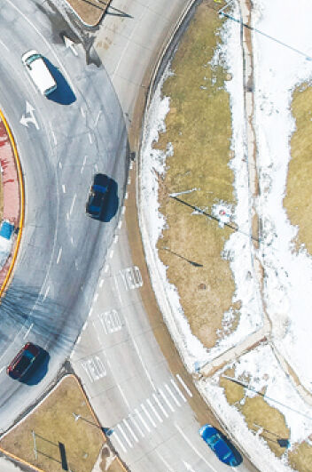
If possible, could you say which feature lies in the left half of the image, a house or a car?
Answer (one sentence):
The feature located in the left half of the image is a car.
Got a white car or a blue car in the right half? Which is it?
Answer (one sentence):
Visible in the right half is a blue car.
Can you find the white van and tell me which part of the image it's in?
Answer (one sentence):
Look in the top left portion of the view to spot the white van.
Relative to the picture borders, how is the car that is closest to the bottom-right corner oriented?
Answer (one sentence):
Seen from above, the car that is closest to the bottom-right corner lies on a diagonal.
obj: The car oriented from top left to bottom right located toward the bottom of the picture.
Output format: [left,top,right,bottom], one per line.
[202,425,239,468]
